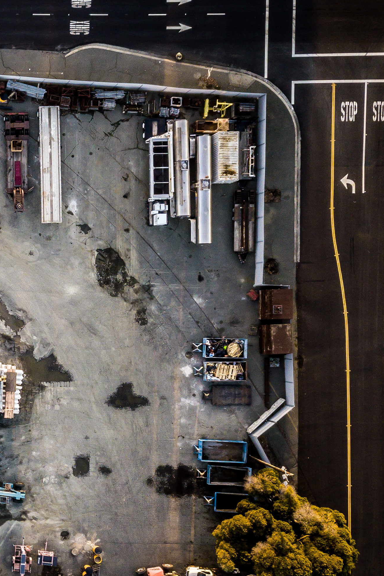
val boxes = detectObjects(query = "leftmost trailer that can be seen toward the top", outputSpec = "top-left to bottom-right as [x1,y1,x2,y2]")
[4,112,29,211]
